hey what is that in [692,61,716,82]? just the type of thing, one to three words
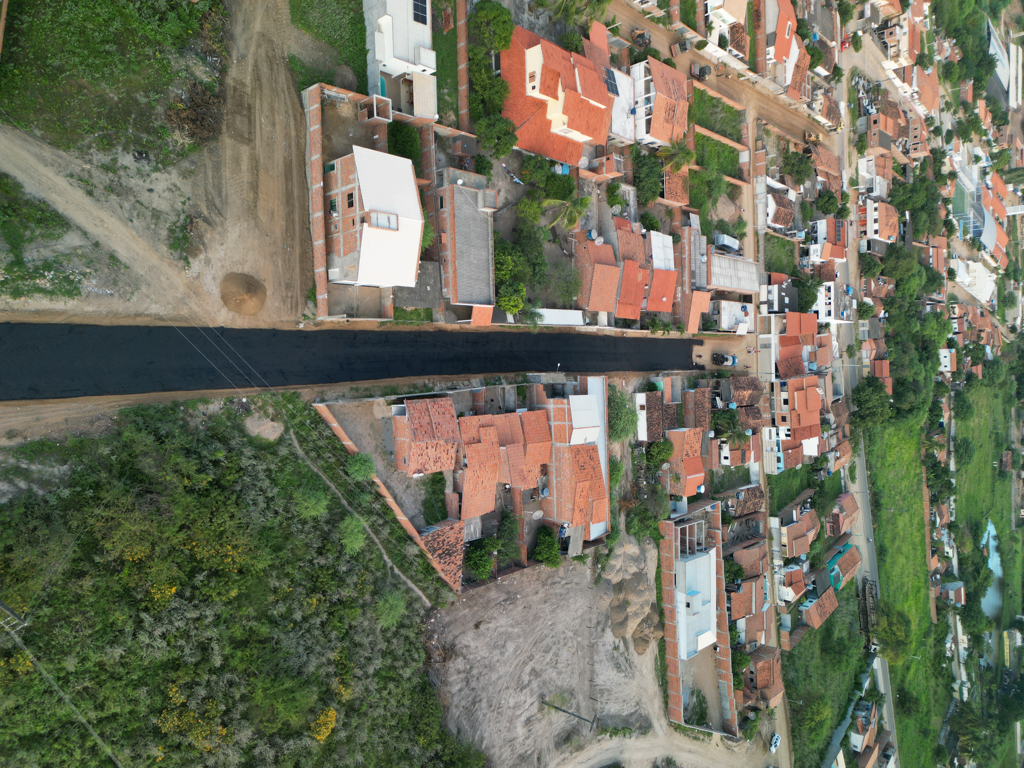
work vehicle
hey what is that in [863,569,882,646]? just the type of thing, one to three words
vehicle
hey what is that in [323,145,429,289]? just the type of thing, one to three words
house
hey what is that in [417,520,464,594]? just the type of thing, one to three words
shed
